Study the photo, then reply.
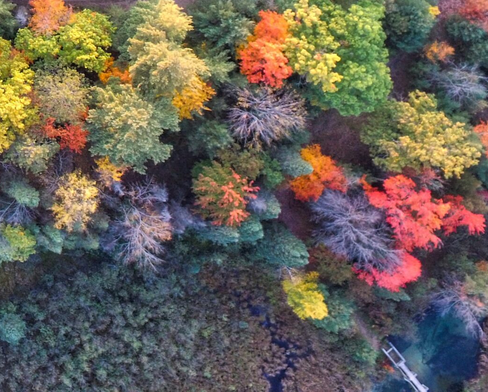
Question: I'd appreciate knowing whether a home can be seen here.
No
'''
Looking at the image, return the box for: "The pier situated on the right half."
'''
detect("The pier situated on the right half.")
[382,340,429,392]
